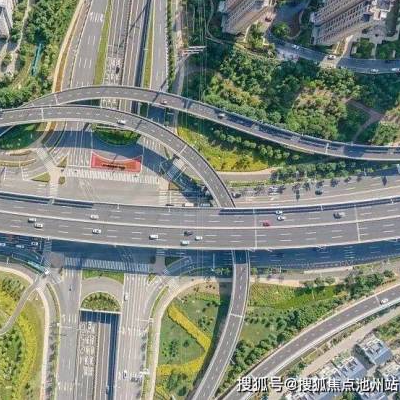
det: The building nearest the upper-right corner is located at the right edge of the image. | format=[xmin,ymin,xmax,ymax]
[310,0,395,44]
